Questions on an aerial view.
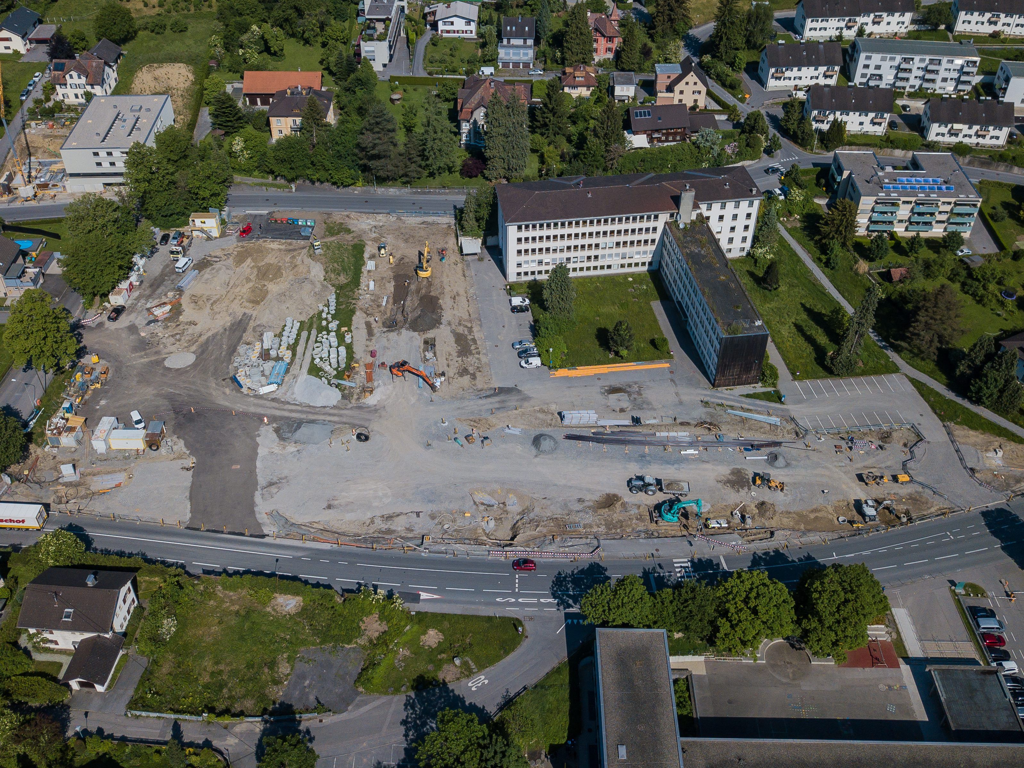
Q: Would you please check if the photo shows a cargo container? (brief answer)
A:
Yes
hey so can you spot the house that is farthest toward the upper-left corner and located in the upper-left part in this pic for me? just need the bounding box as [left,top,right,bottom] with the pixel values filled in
[0,9,55,56]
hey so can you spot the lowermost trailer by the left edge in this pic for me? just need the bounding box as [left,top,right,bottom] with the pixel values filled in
[0,501,48,529]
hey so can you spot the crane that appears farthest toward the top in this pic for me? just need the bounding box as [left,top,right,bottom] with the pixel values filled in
[0,58,36,190]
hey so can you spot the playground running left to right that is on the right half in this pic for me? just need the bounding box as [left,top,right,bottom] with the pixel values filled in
[684,661,930,738]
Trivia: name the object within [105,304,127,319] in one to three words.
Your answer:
vehicle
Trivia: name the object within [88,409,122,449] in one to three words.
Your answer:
shipping container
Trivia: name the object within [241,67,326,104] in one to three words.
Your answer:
barn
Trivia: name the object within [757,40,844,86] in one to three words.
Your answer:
house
